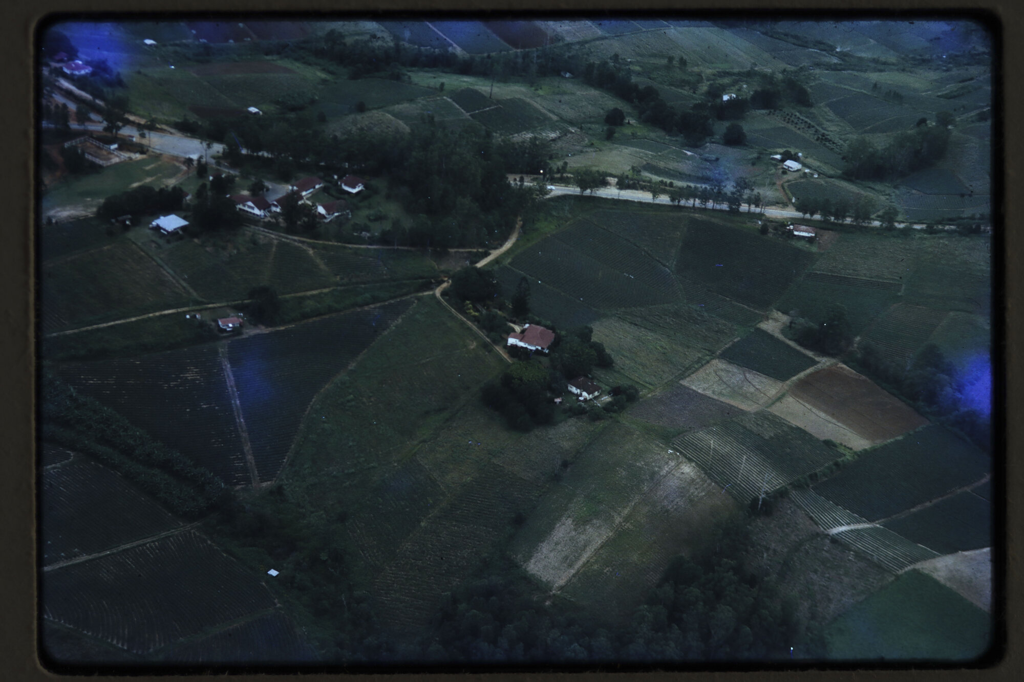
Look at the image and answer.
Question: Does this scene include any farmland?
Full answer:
Yes, farmland can be seen from above here.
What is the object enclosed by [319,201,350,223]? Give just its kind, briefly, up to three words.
building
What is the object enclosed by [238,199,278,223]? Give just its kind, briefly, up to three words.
building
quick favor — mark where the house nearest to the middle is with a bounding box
[509,326,562,360]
